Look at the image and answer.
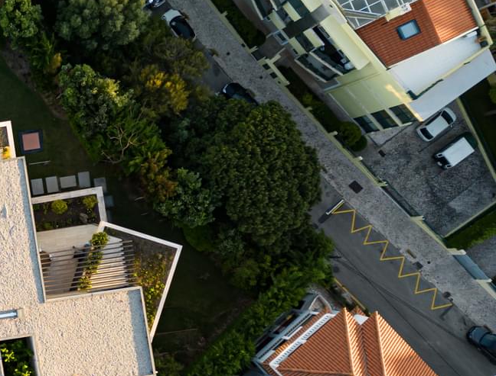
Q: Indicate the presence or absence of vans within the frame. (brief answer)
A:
Yes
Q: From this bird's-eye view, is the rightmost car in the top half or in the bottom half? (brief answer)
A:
bottom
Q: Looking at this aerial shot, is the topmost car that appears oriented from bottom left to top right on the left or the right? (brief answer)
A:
right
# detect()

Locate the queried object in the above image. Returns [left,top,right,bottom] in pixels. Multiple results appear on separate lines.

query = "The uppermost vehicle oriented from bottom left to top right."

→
[410,106,459,143]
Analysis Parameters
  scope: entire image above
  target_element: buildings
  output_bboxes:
[244,0,496,130]
[247,298,437,376]
[0,122,157,376]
